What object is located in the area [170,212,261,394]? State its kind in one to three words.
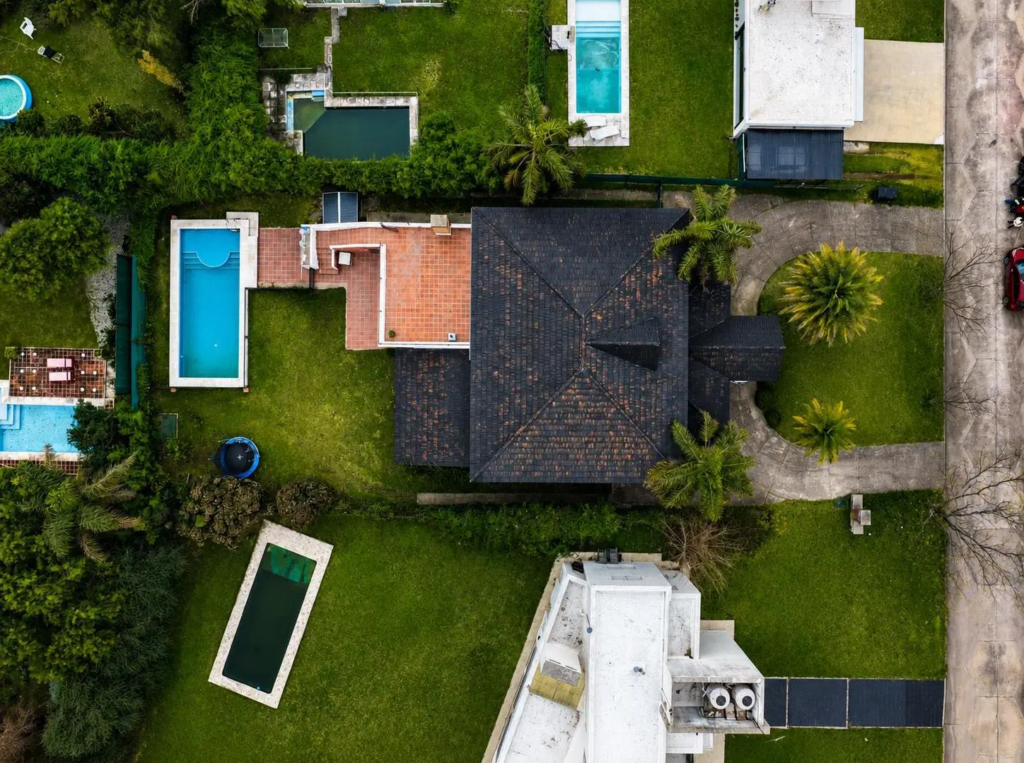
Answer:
swimming pool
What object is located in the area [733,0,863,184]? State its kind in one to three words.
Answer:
house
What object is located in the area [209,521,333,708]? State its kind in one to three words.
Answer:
swimming pool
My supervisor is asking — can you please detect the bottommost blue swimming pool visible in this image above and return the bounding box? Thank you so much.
[0,396,92,460]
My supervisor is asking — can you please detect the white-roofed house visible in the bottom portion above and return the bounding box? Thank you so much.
[492,563,765,763]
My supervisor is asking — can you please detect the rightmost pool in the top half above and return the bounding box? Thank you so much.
[568,0,629,147]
